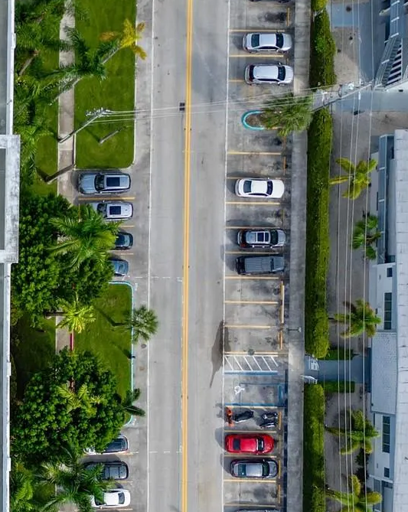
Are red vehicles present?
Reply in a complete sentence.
Yes, a red vehicle appears in the view.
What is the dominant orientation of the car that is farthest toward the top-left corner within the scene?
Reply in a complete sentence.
What the image shows is the car that is farthest toward the top-left corner lying from left to right.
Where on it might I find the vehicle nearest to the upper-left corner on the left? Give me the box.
[79,171,132,194]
